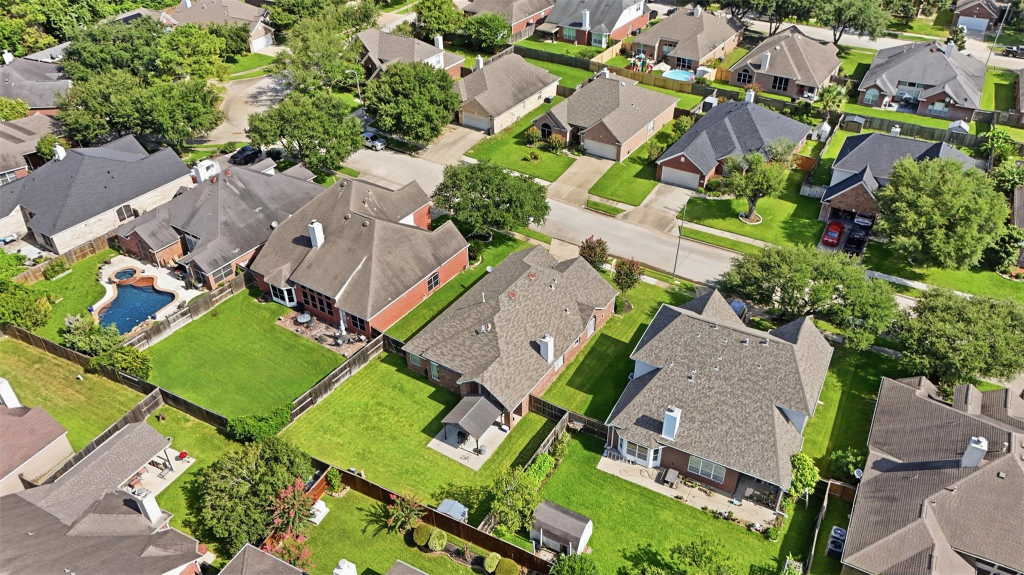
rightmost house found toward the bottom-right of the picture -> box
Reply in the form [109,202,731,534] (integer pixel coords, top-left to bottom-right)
[839,375,1024,575]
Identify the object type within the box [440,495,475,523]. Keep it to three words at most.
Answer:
shed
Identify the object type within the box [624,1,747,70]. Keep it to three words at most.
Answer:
house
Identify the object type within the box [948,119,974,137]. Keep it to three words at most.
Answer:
shed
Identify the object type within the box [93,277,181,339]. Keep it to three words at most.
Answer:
swimming pool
